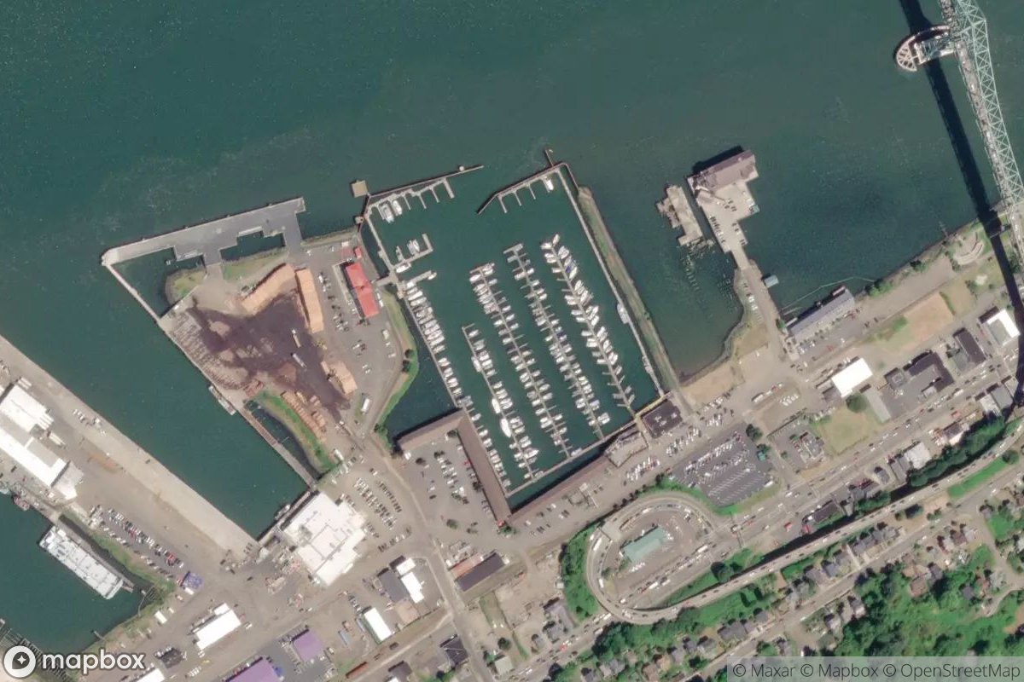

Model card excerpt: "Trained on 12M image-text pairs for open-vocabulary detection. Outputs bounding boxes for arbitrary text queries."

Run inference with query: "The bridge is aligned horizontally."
[583,422,1024,621]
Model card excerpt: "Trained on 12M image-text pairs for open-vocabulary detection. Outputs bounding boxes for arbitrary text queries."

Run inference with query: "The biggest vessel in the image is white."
[36,527,122,599]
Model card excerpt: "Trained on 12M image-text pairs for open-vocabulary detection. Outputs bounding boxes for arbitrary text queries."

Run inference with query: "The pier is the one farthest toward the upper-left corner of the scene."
[101,259,161,320]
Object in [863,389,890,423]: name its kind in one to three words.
shed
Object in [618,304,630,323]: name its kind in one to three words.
boat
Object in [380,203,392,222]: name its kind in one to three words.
boat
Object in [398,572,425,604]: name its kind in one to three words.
building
